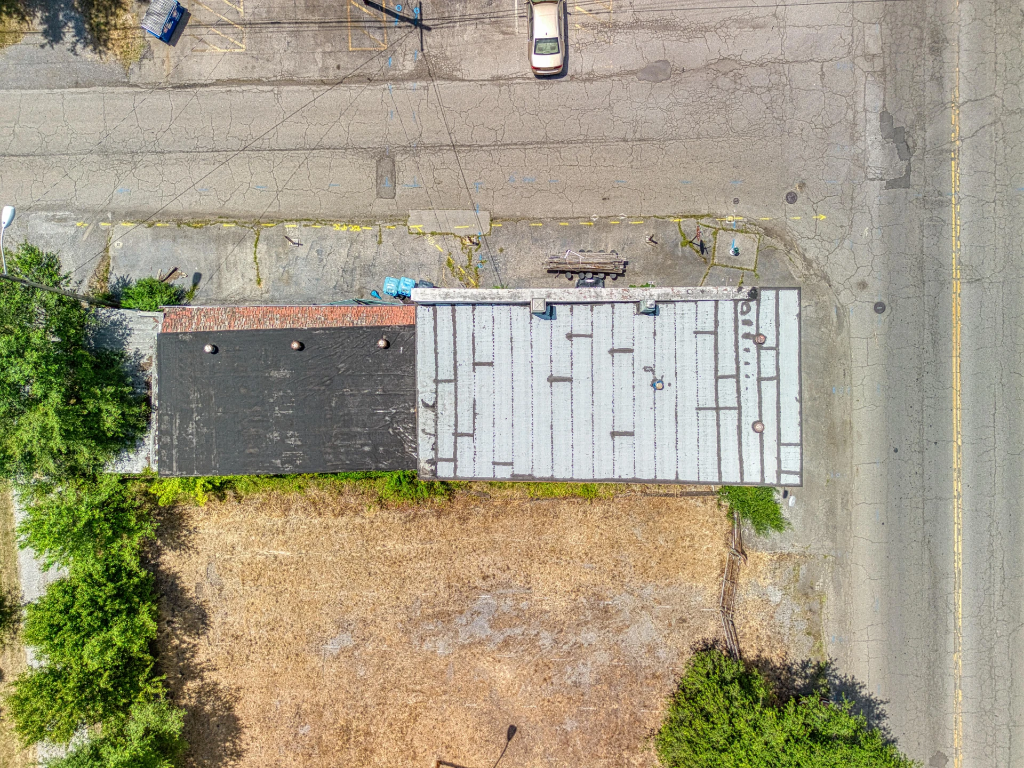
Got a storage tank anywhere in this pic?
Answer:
No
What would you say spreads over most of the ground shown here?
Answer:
paved ground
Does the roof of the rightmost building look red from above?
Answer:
No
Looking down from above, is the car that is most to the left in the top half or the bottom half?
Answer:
top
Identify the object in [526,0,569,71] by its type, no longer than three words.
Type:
car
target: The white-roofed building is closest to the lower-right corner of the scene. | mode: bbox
[412,278,803,506]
